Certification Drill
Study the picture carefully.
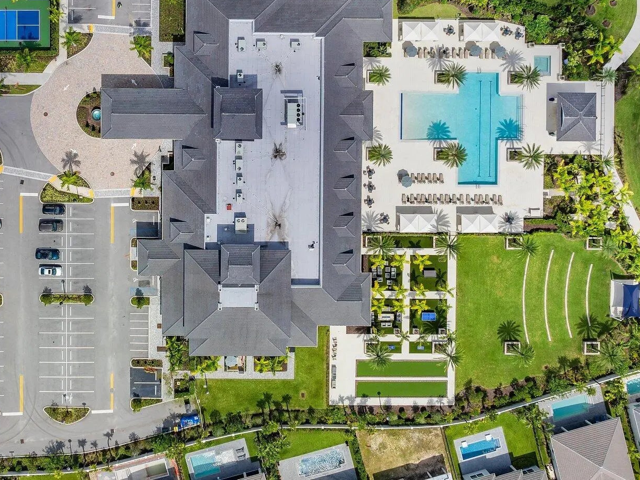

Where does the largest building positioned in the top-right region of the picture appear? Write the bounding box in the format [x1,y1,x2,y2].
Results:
[550,92,597,142]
